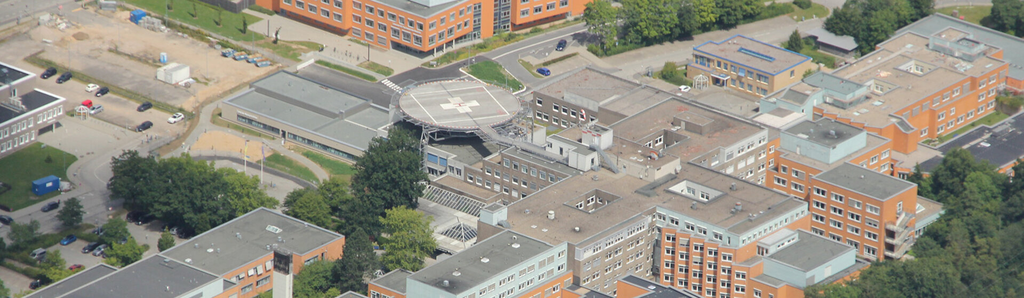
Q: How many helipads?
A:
1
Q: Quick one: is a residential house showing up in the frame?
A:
Yes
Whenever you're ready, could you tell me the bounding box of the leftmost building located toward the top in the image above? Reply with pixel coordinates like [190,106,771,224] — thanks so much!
[0,60,66,157]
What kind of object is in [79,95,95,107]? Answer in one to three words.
vehicle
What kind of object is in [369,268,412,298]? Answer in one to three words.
building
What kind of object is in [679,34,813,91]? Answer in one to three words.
house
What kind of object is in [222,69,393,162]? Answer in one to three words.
building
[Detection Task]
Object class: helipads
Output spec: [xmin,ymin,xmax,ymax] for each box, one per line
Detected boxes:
[391,79,570,175]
